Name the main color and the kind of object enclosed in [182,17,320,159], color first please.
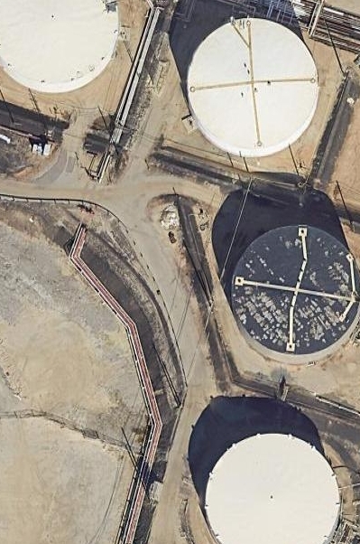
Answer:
white storage tank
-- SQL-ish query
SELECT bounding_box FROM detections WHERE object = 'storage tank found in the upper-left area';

[0,0,122,101]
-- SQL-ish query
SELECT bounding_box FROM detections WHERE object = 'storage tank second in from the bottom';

[226,225,360,366]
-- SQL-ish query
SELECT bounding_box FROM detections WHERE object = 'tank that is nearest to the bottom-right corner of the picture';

[199,432,343,544]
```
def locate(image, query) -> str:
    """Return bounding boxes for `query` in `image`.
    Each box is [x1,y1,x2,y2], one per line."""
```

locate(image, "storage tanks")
[226,225,360,366]
[182,17,320,159]
[0,0,122,101]
[199,432,343,544]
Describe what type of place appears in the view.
industrial area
